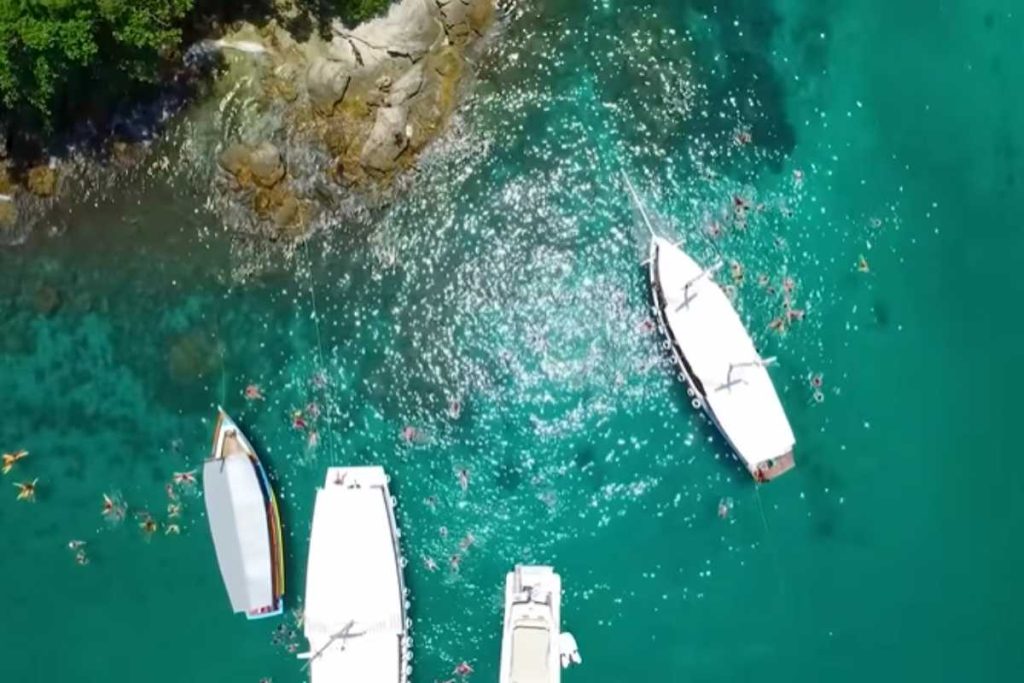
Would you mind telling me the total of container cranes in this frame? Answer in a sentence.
Not a single container crane can be seen.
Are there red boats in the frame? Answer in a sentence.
No, the picture doesn't show any red boat.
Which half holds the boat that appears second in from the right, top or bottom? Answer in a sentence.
The boat that appears second in from the right sits in the bottom half of the picture.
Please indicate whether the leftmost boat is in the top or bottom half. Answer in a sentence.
The leftmost boat sits in the bottom half of the picture.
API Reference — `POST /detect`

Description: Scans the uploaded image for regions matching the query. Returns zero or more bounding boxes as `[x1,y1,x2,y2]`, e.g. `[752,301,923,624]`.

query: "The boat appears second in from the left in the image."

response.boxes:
[298,464,414,683]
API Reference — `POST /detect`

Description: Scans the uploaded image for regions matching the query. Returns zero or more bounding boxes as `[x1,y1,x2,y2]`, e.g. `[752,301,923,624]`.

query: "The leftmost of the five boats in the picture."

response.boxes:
[202,407,287,622]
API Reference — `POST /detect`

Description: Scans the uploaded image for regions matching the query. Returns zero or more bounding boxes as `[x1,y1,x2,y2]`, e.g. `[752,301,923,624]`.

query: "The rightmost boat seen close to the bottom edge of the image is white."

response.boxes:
[561,630,583,669]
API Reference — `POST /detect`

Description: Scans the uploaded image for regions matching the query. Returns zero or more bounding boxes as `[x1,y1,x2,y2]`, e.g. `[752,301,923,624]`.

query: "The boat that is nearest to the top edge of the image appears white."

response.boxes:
[622,170,800,481]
